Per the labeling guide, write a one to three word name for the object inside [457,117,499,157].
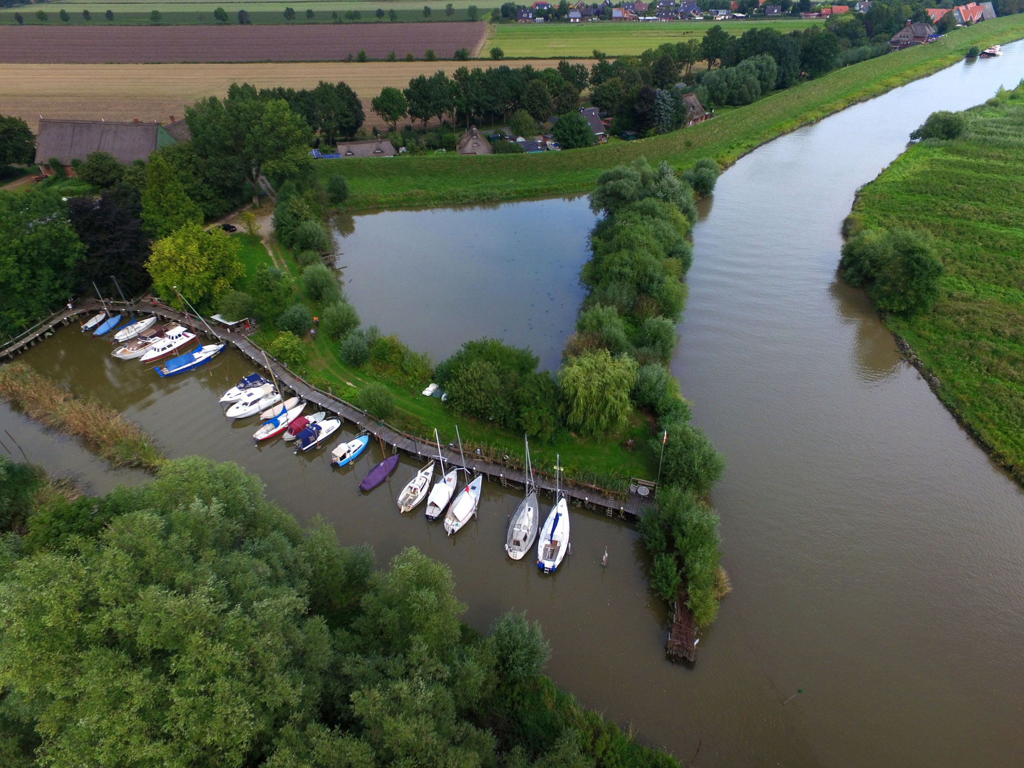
house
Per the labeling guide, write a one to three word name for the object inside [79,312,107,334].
boat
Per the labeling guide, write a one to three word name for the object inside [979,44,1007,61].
boat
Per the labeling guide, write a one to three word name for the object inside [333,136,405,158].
house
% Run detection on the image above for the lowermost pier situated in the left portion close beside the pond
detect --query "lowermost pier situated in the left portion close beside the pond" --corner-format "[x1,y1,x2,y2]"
[0,290,660,521]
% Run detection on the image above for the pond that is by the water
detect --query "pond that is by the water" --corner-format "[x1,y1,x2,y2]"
[332,194,599,379]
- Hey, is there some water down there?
Yes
